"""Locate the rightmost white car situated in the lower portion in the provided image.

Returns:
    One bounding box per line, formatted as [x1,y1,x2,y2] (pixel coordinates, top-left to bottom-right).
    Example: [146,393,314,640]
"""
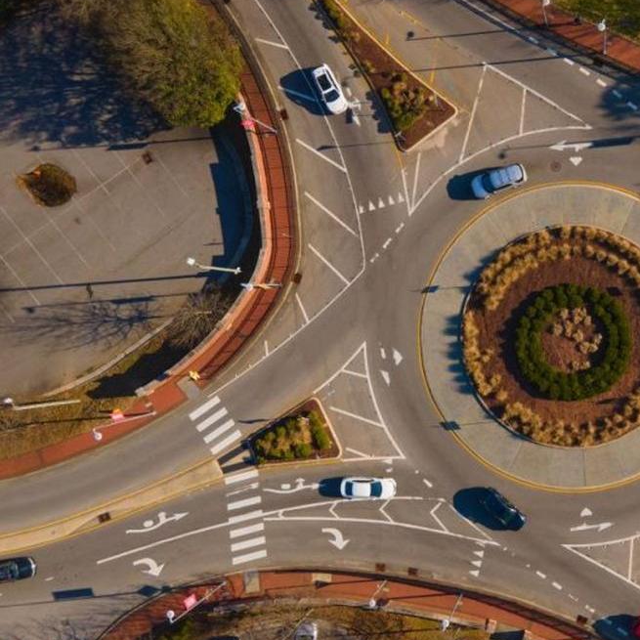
[340,475,397,500]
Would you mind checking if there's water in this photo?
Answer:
No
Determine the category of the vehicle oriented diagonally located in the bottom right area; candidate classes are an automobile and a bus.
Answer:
automobile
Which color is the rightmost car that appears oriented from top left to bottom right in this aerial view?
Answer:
black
